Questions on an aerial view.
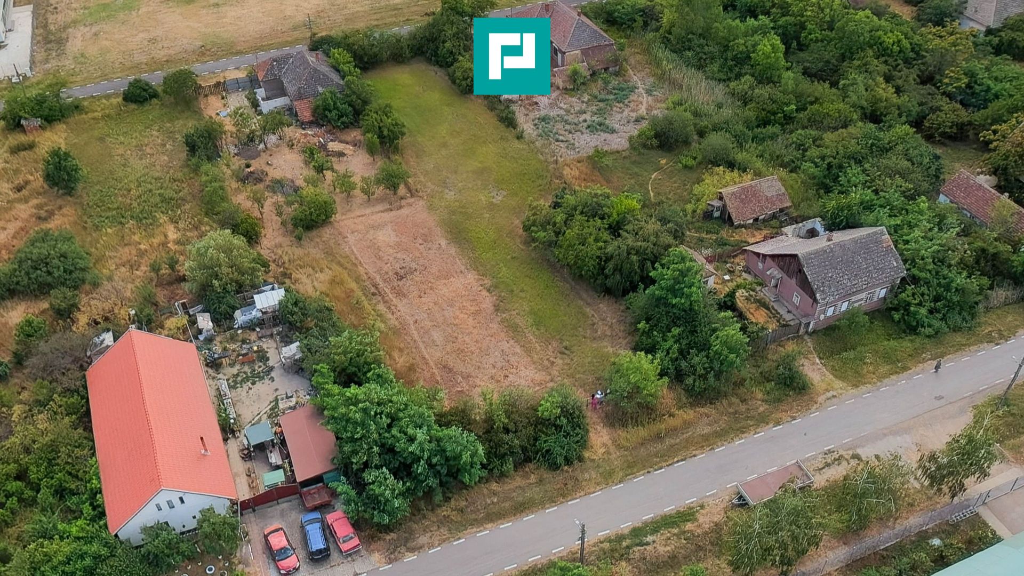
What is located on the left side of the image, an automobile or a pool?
automobile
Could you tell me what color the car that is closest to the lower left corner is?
red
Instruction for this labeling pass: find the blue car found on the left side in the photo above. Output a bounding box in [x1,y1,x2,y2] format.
[298,509,329,563]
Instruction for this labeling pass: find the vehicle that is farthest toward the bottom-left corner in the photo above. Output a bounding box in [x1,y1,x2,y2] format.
[262,523,302,576]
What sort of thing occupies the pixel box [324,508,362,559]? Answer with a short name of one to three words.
car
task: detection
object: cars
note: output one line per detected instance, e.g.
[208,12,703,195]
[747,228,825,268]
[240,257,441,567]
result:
[298,509,329,563]
[262,523,302,576]
[324,508,362,559]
